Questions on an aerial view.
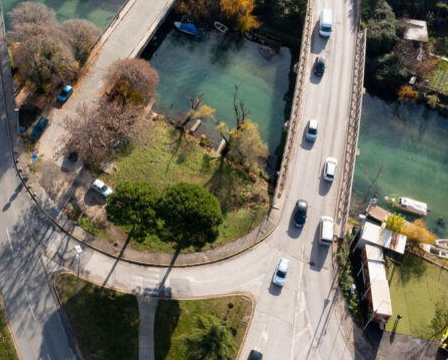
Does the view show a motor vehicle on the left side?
Yes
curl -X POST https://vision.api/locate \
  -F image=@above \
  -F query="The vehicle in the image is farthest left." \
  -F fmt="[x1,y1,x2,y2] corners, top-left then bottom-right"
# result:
[29,116,48,137]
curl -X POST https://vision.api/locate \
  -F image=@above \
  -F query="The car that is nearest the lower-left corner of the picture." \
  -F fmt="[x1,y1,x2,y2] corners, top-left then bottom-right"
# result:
[90,176,114,198]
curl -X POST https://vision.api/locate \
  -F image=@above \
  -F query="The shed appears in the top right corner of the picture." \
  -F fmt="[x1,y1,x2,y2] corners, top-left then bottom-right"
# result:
[395,16,428,52]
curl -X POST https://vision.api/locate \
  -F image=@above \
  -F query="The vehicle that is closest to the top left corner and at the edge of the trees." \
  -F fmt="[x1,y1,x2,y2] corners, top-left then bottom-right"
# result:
[57,82,73,100]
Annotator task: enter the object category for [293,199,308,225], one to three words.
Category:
car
